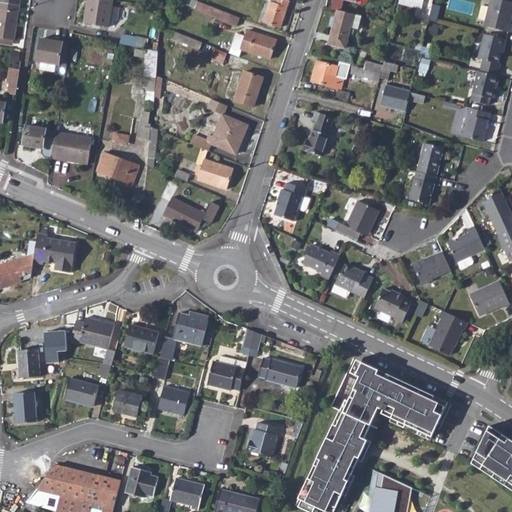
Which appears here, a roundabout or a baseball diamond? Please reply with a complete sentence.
I can see a roundabout in this picture.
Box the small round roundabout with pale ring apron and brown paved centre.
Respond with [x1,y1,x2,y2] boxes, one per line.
[198,248,256,306]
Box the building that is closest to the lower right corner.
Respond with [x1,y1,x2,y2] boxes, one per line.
[470,426,512,493]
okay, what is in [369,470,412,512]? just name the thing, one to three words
building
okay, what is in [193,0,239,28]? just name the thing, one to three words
shed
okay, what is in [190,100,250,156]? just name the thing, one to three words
house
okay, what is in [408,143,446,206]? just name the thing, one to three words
house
